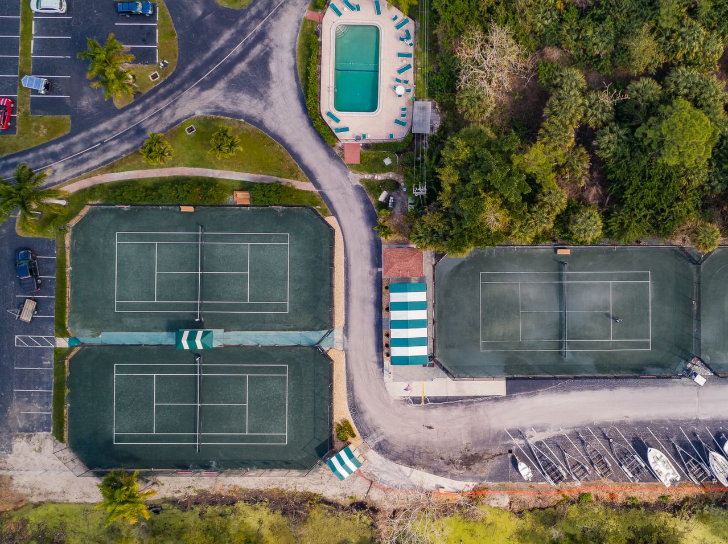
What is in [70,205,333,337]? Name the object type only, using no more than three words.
tennis court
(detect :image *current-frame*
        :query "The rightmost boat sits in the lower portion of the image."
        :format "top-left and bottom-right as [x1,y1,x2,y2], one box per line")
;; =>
[706,445,728,486]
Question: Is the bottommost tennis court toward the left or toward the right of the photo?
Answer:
left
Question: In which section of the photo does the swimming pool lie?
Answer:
top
